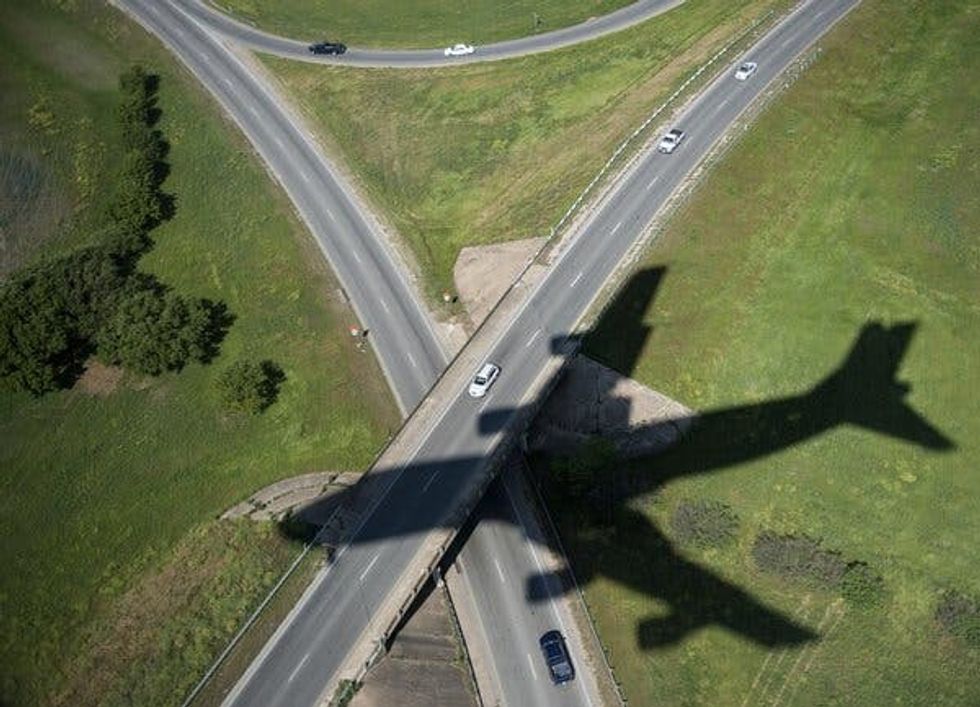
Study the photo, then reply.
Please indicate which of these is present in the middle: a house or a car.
car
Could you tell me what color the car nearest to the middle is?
white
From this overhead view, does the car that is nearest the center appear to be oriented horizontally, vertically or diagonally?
diagonally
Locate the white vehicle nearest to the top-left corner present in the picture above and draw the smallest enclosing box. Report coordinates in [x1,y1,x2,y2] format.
[444,44,475,59]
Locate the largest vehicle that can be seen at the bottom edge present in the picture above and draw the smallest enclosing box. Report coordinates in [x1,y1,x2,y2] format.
[539,629,576,691]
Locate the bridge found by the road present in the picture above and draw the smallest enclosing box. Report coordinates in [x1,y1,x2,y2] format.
[230,236,685,707]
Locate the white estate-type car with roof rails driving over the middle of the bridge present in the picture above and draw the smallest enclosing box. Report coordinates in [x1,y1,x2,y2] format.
[465,362,502,403]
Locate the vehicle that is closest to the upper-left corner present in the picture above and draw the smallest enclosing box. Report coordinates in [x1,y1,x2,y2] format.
[308,41,345,58]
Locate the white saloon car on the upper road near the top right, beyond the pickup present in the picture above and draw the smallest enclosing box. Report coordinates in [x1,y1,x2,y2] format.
[732,62,758,84]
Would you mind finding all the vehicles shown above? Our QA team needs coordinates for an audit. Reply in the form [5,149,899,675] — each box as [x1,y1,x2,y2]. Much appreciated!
[444,44,475,59]
[656,126,687,157]
[539,629,576,691]
[308,41,345,58]
[732,62,758,84]
[465,362,502,403]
